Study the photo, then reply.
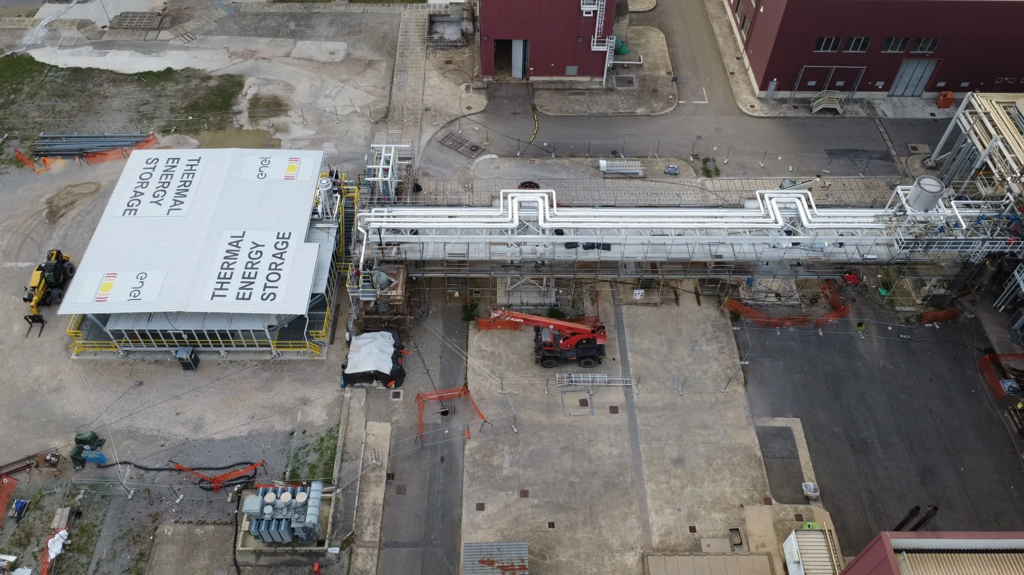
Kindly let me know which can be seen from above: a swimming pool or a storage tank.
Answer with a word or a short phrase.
storage tank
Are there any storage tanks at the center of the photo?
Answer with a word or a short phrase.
No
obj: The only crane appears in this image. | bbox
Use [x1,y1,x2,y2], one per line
[493,310,608,366]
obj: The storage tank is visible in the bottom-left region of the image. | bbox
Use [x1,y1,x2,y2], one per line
[248,498,304,530]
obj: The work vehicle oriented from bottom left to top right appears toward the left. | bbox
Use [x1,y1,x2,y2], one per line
[9,249,74,335]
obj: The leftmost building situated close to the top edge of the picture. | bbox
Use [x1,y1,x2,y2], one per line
[477,0,614,84]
